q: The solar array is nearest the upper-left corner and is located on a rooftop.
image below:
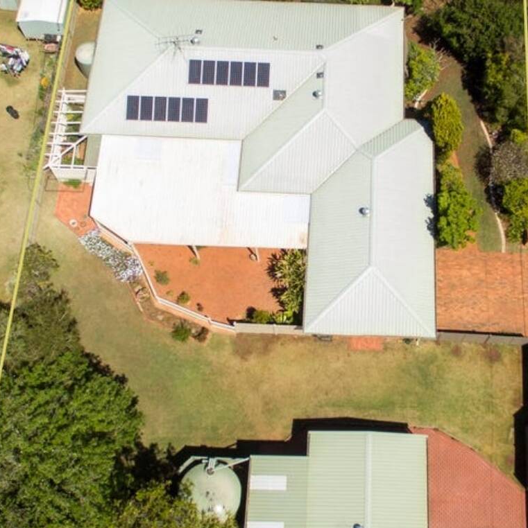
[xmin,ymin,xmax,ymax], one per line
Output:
[127,95,206,125]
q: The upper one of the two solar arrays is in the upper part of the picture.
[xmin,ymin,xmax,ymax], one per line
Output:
[188,60,268,89]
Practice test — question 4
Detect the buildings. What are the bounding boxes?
[243,430,430,528]
[80,0,437,340]
[17,0,77,38]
